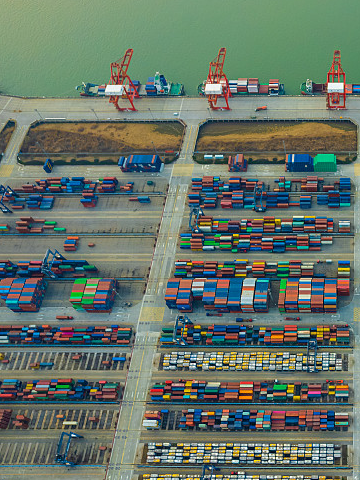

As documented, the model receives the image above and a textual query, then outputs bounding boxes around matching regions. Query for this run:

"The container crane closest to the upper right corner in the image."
[323,48,345,109]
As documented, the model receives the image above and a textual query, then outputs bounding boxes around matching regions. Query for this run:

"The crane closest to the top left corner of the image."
[105,47,141,109]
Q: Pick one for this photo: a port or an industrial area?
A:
port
